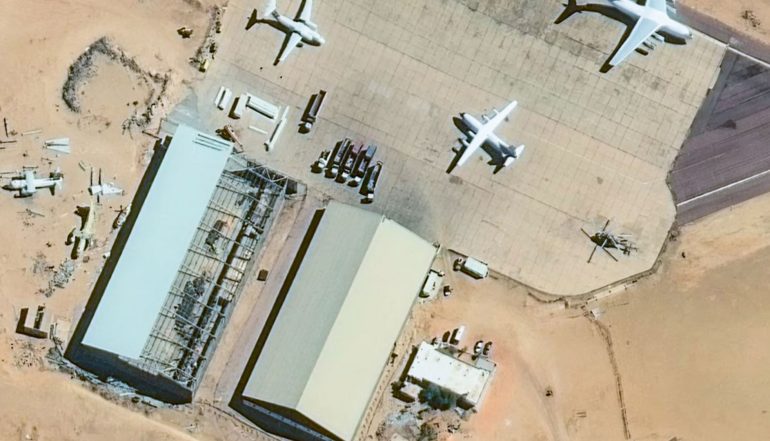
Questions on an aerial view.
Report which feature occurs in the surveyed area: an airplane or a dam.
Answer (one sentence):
Visible in the photo is an airplane.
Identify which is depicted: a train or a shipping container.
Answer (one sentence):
The image shows a shipping container.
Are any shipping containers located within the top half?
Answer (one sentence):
Yes, there is a shipping container within the top half.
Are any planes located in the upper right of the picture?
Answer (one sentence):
Yes, a plane can be seen in the upper right of the picture.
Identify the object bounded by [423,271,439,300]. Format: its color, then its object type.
white vehicle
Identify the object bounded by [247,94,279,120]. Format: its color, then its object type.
white shipping container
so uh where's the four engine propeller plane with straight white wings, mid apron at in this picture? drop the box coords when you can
[458,97,526,168]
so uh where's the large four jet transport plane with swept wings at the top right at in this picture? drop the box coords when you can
[608,0,693,62]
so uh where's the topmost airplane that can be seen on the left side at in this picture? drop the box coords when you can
[267,0,325,59]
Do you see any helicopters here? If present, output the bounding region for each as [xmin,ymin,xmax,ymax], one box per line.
[587,212,636,256]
